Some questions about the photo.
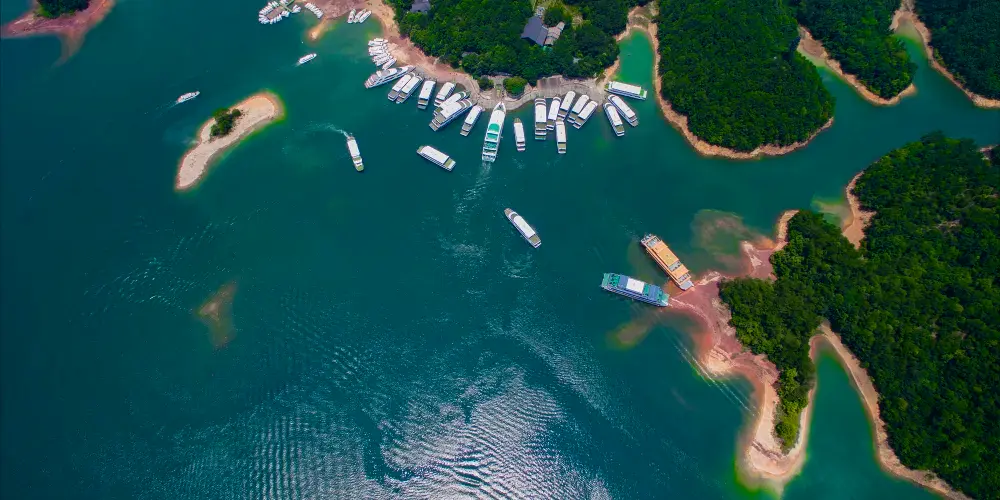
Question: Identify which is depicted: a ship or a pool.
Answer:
ship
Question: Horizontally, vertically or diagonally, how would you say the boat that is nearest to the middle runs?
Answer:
diagonally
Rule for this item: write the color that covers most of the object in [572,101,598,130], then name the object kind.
white boat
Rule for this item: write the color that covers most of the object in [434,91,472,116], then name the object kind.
white boat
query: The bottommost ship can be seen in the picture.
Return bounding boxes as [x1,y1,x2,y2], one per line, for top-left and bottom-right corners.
[601,271,669,309]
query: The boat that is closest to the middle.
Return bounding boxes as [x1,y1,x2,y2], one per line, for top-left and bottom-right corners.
[505,208,542,248]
